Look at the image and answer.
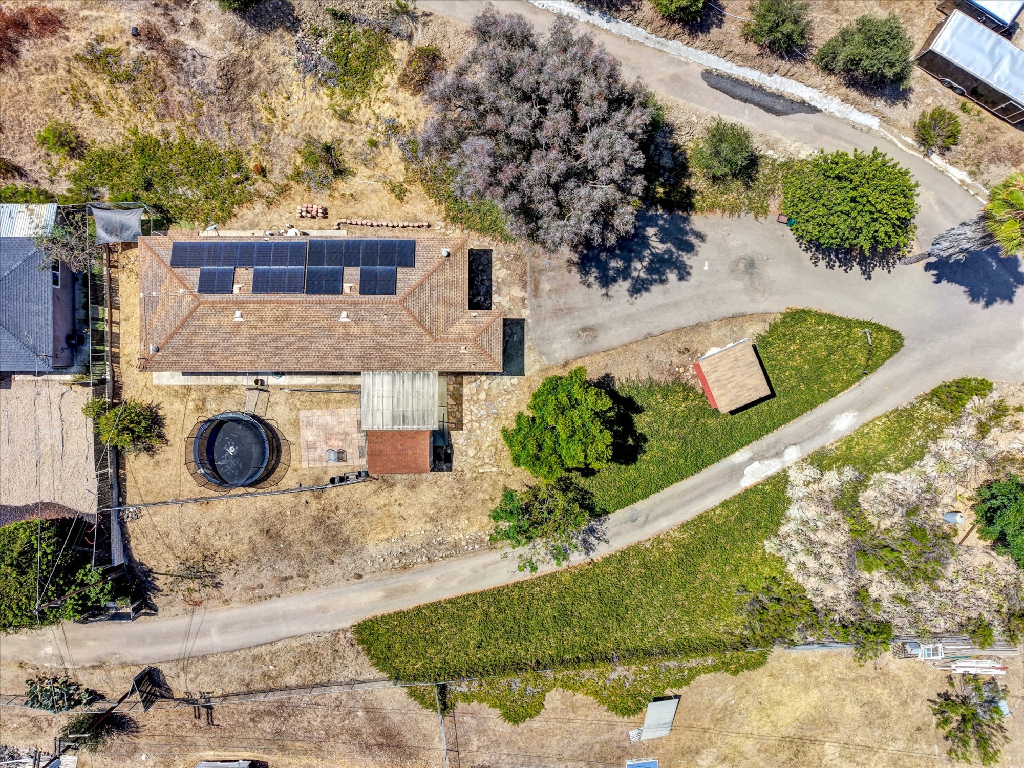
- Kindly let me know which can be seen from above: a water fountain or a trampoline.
trampoline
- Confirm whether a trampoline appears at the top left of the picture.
No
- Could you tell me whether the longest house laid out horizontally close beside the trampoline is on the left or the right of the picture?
left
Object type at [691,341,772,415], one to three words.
shed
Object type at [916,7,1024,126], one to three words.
trailer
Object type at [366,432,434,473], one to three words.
shed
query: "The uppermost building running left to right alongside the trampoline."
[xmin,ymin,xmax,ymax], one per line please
[129,231,503,372]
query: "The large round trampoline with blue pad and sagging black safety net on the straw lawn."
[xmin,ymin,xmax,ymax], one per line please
[179,409,274,494]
